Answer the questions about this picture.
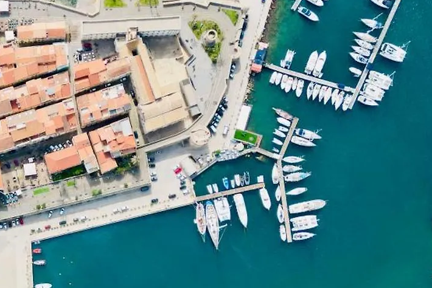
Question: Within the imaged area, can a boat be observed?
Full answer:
Yes, the image includes a boat.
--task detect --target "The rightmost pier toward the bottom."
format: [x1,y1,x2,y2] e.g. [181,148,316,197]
[277,117,297,242]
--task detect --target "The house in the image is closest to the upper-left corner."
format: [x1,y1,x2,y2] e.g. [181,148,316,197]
[17,24,47,42]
